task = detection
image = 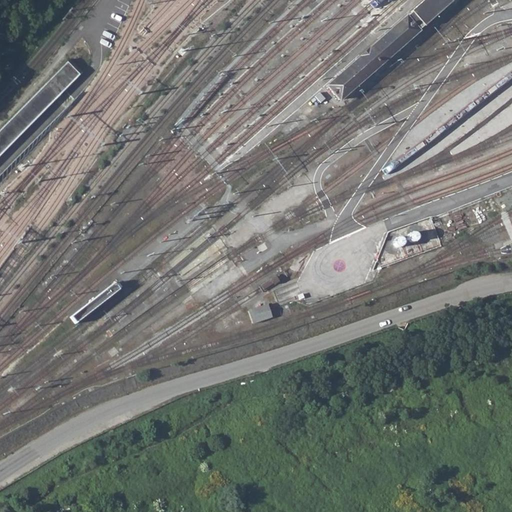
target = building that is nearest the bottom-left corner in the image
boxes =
[70,278,126,324]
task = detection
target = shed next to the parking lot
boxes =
[0,62,84,158]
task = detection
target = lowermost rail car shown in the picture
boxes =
[262,276,282,291]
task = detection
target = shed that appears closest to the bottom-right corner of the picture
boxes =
[250,303,274,323]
